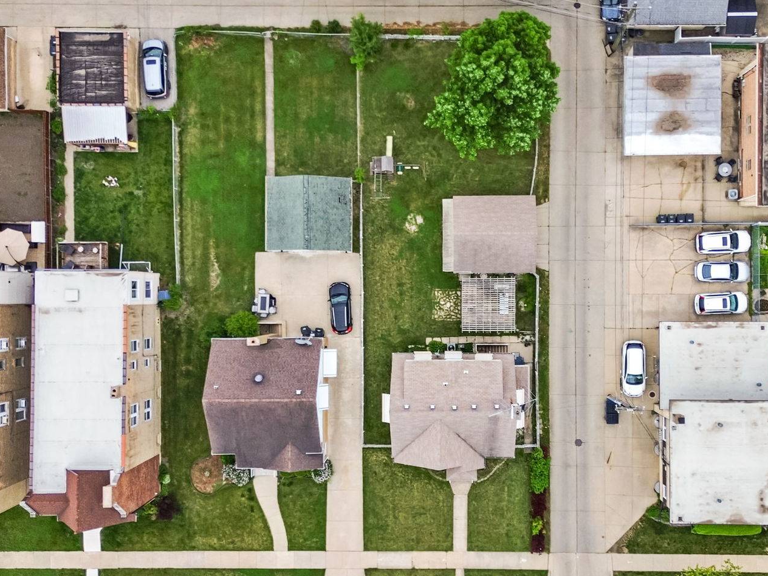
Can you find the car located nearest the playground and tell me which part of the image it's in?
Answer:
center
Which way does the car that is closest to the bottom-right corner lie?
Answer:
up and down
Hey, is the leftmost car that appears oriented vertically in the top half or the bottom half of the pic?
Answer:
top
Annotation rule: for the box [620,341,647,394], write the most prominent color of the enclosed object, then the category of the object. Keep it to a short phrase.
white car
